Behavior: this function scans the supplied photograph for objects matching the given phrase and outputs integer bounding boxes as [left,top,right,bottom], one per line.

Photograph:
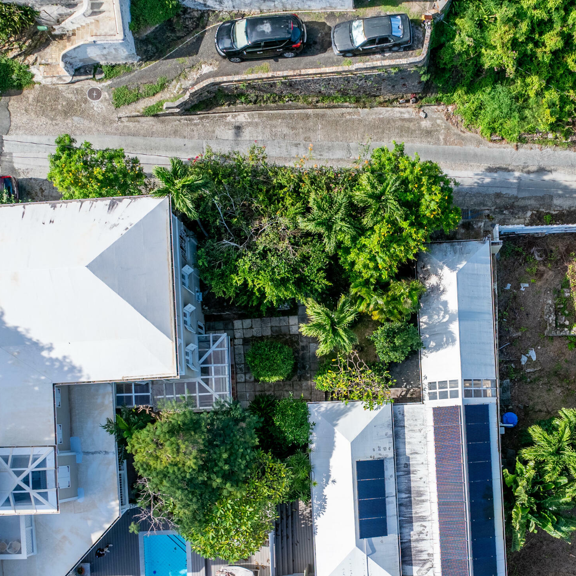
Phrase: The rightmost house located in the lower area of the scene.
[279,240,509,576]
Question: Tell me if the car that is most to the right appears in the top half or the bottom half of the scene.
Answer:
top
